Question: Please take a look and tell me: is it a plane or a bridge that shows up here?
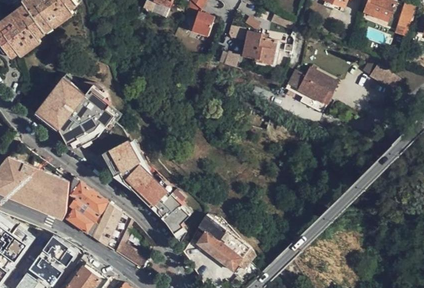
bridge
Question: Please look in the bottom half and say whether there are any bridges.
Yes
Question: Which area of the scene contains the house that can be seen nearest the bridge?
bottom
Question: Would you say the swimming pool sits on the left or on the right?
right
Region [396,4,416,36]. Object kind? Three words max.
house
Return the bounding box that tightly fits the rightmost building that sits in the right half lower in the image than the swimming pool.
[362,62,401,84]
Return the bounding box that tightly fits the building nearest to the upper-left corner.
[0,0,83,60]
